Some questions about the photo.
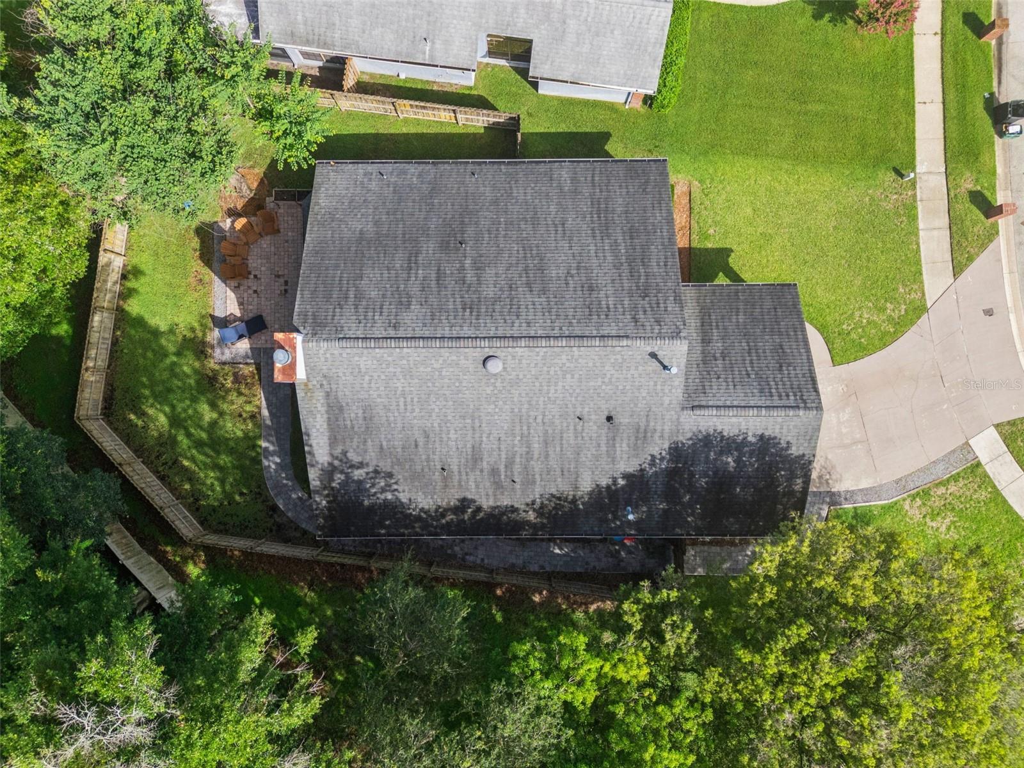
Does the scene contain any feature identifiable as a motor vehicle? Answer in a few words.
No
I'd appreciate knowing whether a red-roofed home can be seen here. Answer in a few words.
No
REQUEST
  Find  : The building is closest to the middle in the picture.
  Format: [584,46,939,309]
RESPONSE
[274,155,822,540]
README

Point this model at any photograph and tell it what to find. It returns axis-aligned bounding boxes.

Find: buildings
[197,0,674,108]
[274,155,822,540]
